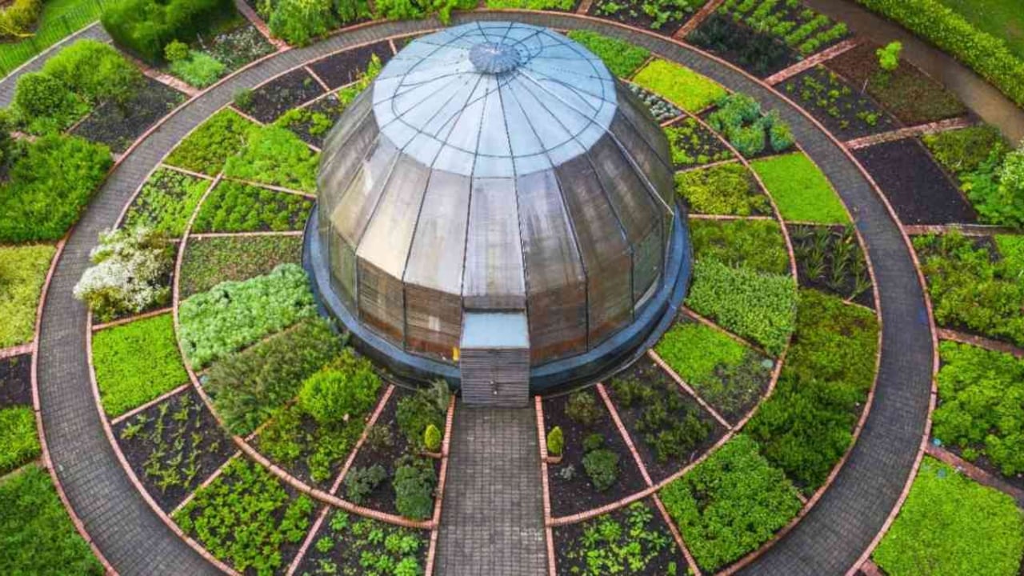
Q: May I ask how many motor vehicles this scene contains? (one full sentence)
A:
The photo contains no motor vehicles.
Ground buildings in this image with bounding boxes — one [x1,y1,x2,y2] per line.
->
[300,26,691,406]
